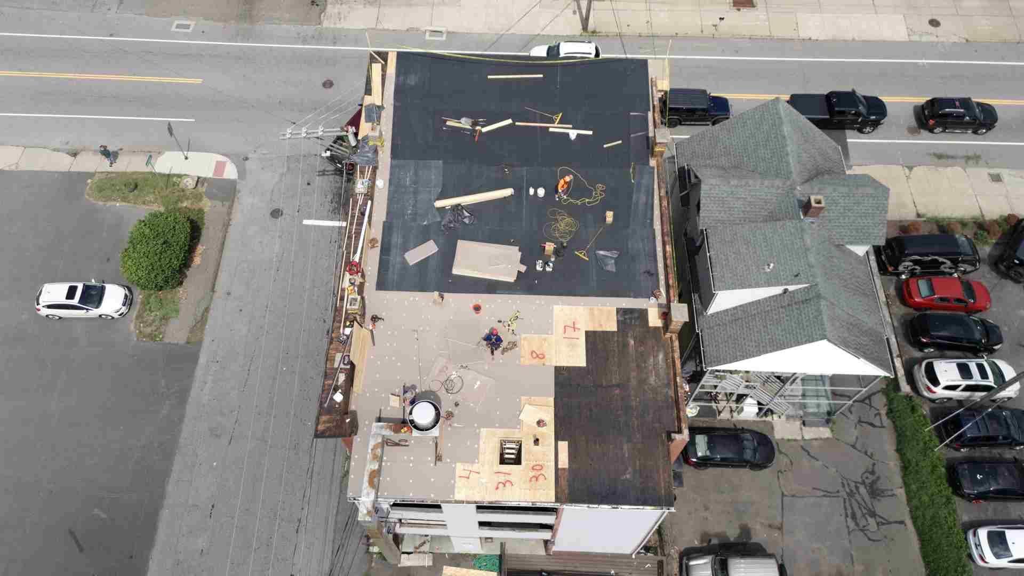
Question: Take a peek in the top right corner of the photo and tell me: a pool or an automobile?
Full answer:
Looking in the top right corner of the photo, you will find an automobile.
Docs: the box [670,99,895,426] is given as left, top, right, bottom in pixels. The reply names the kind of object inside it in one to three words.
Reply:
house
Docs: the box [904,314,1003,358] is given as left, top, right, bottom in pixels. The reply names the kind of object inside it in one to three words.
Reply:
car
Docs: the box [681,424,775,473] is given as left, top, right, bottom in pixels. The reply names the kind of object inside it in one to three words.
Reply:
car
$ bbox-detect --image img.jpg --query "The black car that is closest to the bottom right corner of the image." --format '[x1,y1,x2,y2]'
[946,456,1024,505]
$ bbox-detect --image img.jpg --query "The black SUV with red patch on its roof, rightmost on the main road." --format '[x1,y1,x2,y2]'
[918,95,998,138]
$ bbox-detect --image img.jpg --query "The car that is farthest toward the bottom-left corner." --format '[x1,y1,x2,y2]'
[33,281,139,324]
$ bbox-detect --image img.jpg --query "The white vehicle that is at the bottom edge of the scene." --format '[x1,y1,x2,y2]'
[963,523,1024,572]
